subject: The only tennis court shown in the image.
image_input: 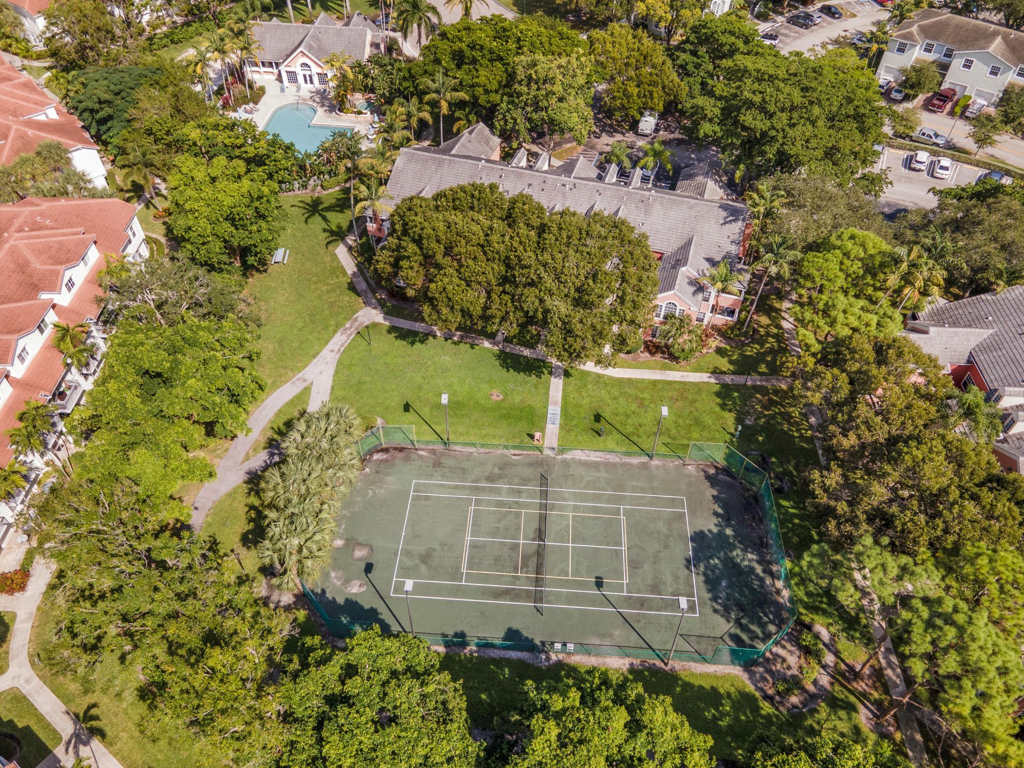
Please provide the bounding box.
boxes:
[306,445,786,668]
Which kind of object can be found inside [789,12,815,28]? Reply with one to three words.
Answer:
car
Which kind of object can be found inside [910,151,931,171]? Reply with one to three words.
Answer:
car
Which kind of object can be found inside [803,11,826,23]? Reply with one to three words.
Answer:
vehicle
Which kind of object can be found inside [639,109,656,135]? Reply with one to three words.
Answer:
vehicle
